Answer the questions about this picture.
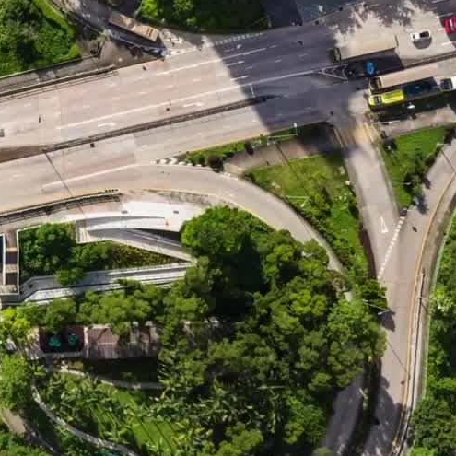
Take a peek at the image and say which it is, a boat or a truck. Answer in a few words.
truck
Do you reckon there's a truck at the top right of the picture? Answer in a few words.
Yes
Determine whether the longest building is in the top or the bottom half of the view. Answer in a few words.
bottom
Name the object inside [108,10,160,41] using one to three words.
truck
